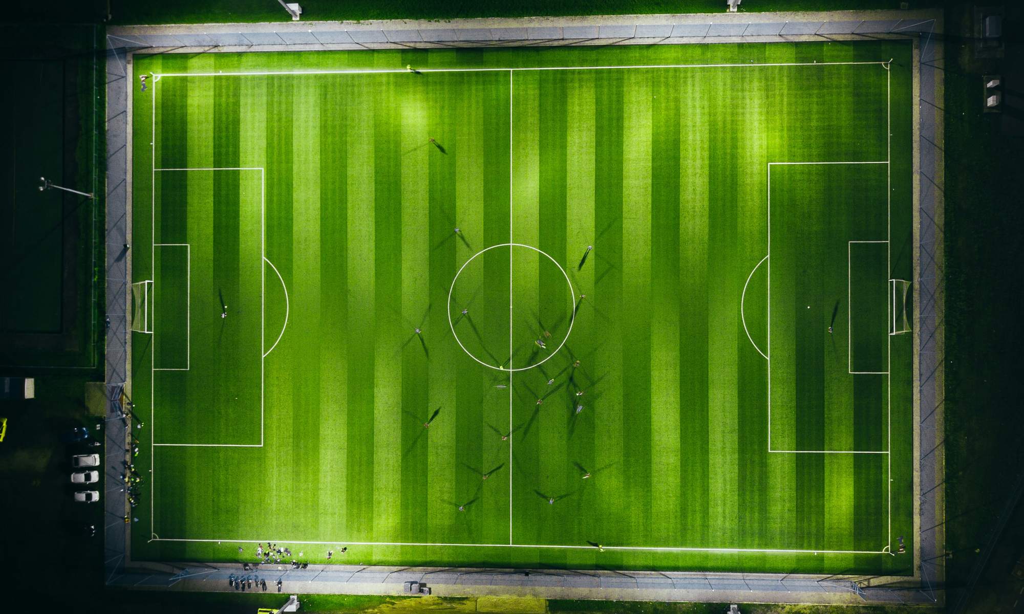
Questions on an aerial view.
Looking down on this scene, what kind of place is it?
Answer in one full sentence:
This image shows a sports ground.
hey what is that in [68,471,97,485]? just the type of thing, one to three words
car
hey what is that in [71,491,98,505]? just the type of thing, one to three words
car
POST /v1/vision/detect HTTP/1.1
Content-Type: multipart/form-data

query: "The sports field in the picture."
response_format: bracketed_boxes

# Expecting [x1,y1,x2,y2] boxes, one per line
[131,39,913,577]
